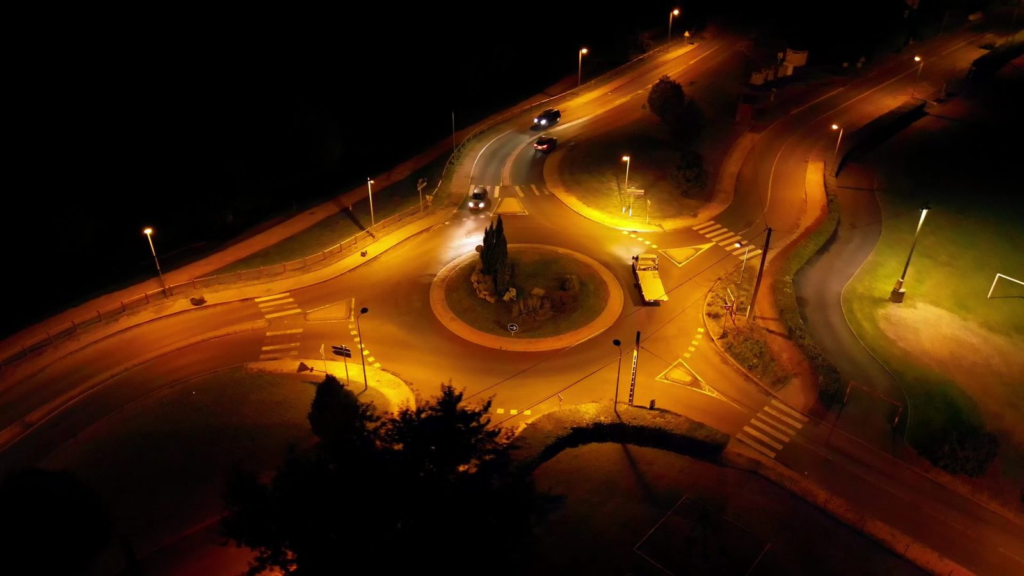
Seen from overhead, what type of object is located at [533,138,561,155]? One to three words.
car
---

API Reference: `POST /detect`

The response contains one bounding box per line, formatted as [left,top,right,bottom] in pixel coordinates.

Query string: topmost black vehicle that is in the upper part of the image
[533,110,563,129]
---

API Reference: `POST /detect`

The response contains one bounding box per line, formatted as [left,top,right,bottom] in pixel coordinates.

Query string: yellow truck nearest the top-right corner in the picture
[629,251,670,305]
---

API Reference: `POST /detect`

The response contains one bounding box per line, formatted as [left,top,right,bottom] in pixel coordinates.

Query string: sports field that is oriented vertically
[842,88,1024,506]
